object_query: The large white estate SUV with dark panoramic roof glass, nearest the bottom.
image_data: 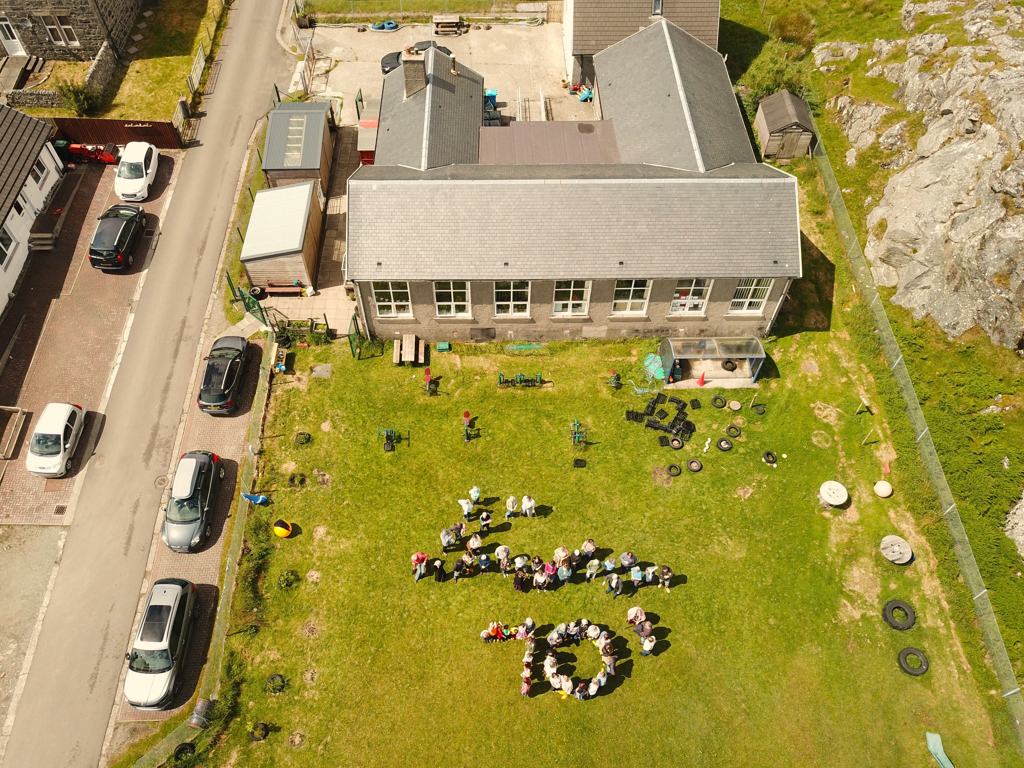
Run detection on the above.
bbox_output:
[119,579,204,714]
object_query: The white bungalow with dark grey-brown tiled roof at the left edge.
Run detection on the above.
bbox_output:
[0,101,81,302]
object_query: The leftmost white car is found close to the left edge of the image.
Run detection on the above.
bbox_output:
[24,401,93,478]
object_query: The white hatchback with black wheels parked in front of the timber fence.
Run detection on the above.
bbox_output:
[112,143,163,199]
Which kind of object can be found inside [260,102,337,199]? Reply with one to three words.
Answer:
shed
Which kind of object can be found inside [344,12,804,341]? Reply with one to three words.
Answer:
building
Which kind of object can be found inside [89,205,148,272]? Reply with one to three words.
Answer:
car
